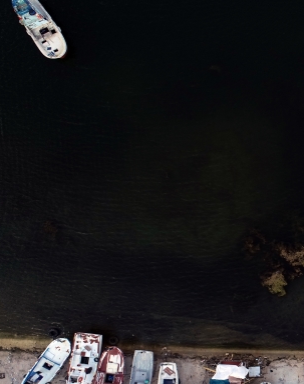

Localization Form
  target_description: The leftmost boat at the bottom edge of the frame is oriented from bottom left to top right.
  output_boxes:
[20,337,73,384]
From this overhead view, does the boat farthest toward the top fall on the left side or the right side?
left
